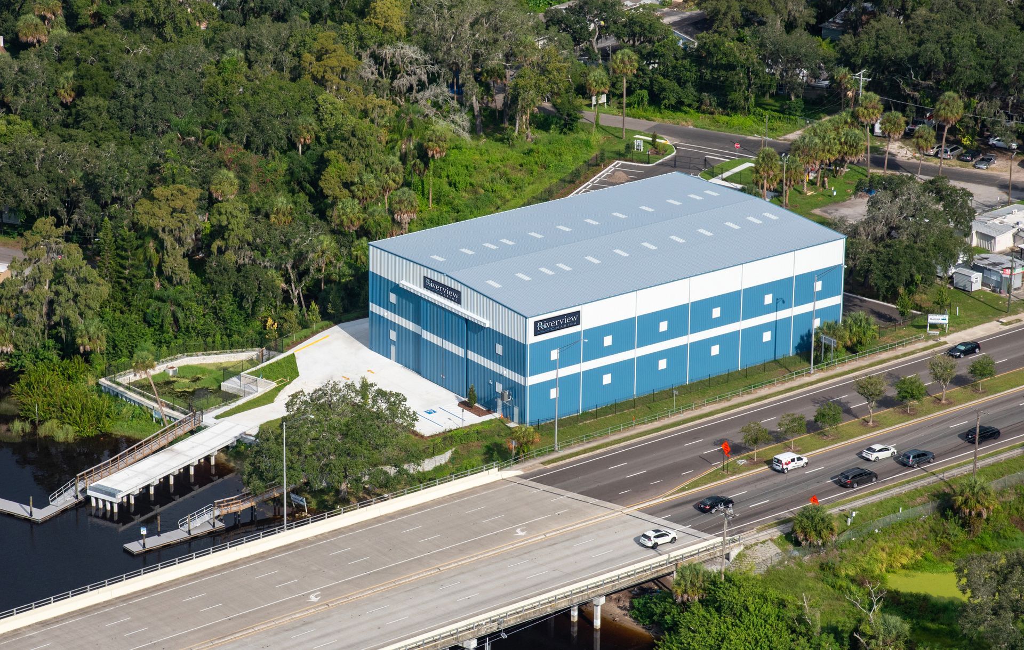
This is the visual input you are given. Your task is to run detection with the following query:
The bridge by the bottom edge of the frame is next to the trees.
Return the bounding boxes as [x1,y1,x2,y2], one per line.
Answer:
[0,467,751,650]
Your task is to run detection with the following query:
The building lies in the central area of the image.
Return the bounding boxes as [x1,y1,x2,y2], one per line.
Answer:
[365,170,846,428]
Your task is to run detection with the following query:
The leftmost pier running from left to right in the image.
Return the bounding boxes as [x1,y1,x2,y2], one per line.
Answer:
[0,491,89,526]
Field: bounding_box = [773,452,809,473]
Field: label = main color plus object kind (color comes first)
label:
white vehicle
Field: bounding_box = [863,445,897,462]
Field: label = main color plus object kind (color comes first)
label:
white car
